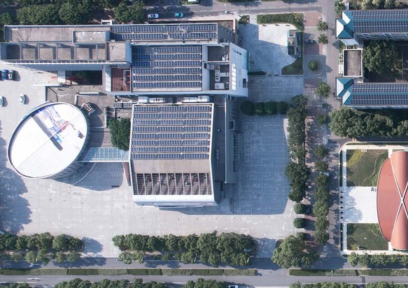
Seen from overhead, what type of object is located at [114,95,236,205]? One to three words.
building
